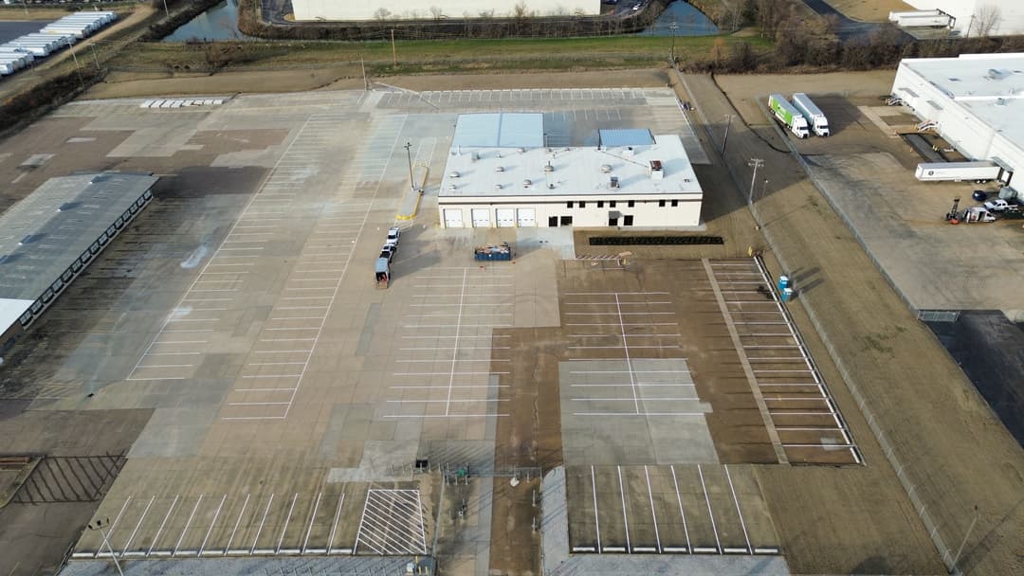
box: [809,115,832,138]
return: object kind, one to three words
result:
truck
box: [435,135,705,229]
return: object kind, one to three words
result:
building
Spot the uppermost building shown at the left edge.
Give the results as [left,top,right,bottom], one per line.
[0,171,161,329]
